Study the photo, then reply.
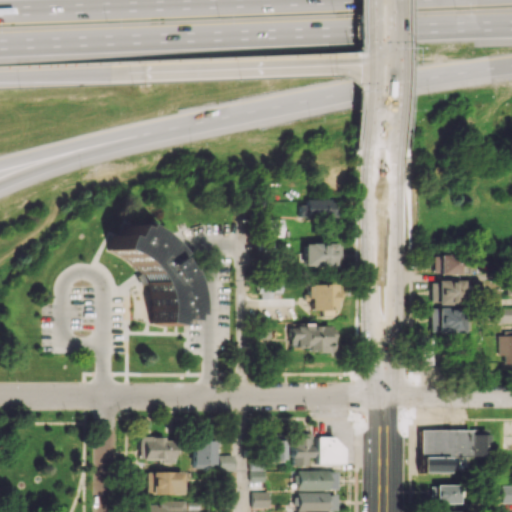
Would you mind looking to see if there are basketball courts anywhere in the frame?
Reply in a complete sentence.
No, the frame has no basketball court in it.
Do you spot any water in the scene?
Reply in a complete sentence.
No, the scene doesn't show any water.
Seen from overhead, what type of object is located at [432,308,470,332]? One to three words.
house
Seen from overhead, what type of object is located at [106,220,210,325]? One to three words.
building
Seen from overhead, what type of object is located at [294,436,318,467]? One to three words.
building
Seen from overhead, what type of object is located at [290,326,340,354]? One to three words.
house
